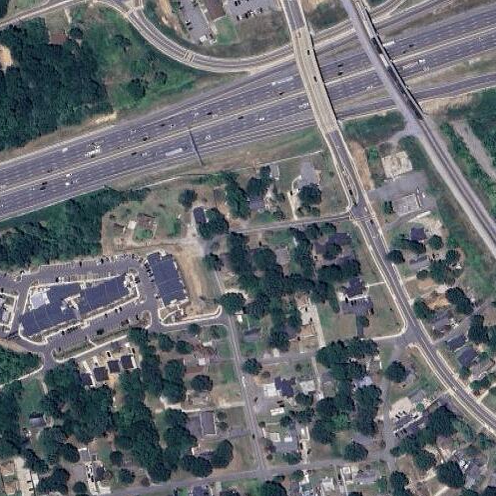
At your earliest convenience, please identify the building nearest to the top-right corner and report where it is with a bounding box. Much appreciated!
[393,190,425,217]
